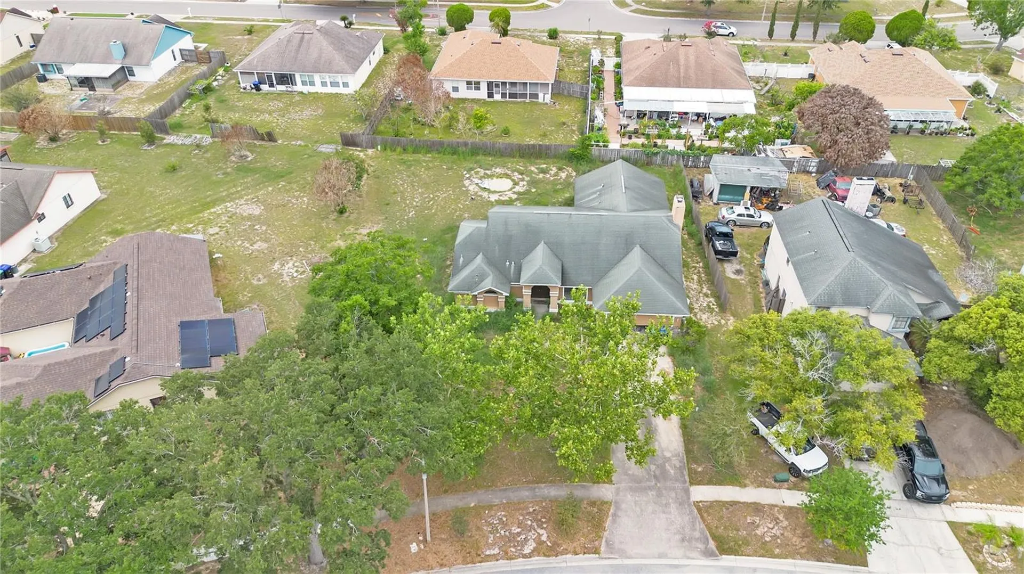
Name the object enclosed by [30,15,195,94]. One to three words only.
house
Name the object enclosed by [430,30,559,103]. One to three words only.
house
